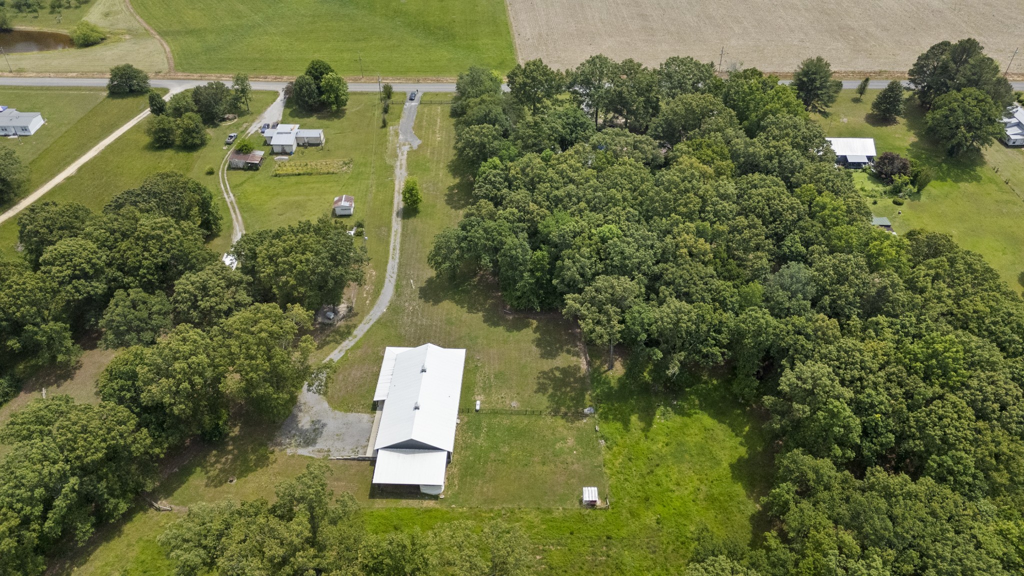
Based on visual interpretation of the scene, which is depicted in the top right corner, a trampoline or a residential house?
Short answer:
residential house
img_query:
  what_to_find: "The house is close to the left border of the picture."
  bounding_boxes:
[0,104,45,138]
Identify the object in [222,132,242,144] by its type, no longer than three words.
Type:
vehicle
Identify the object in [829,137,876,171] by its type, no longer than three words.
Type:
house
